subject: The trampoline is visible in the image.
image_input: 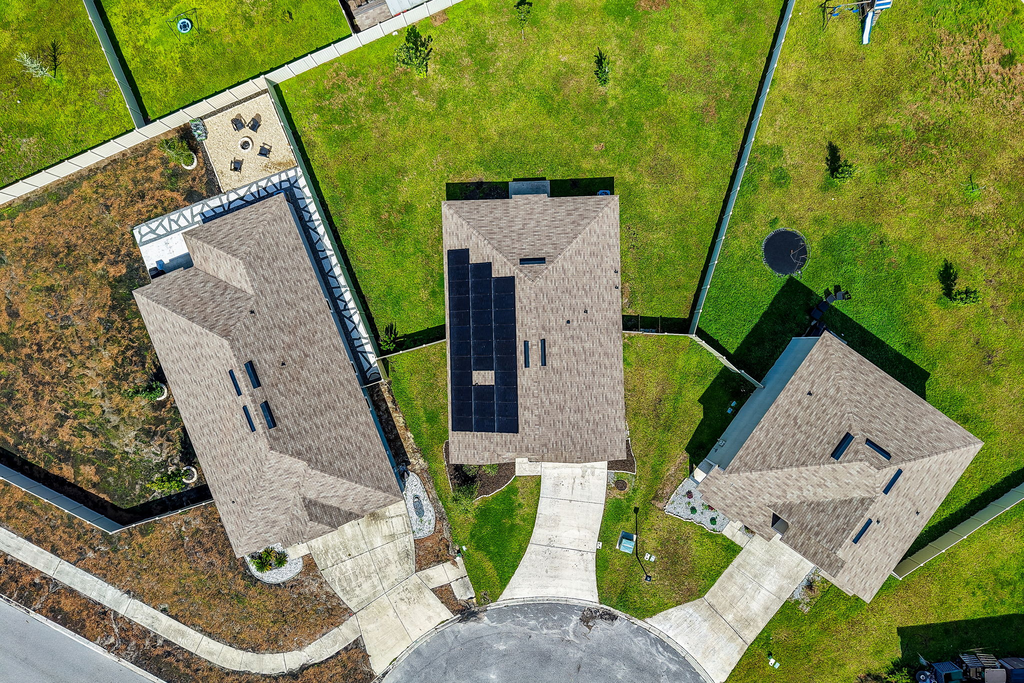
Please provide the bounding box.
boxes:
[762,229,809,276]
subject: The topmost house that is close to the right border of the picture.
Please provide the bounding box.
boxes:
[690,330,984,603]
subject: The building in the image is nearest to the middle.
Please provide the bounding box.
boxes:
[440,194,626,465]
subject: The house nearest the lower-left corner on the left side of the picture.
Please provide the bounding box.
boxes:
[132,193,404,559]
